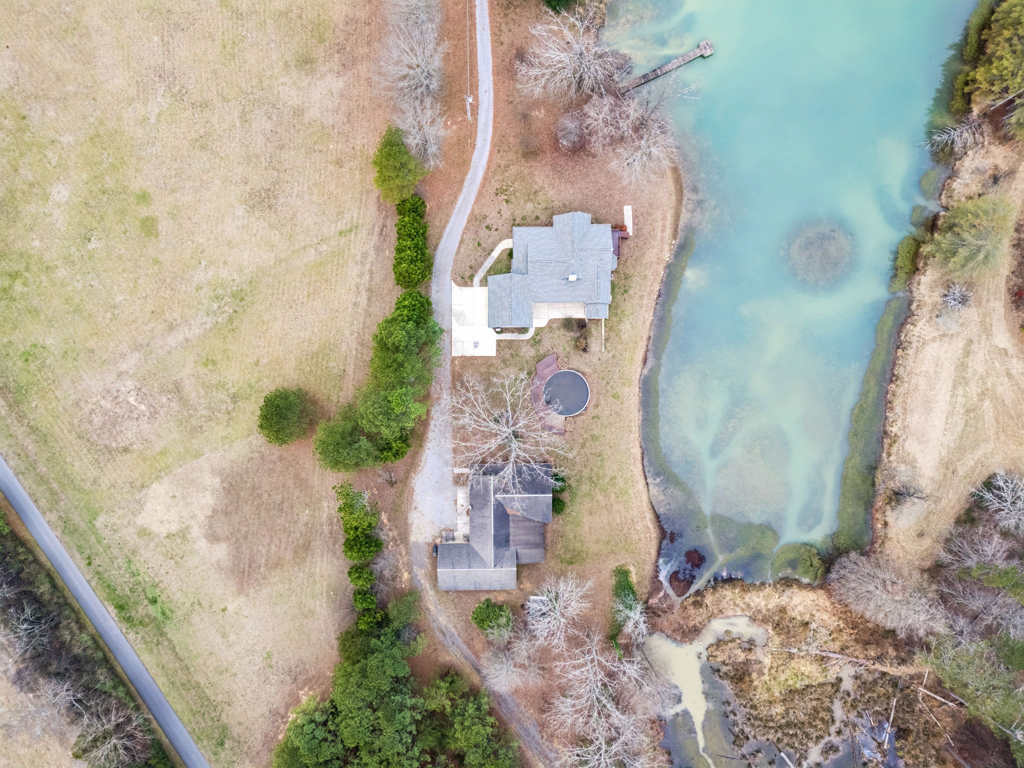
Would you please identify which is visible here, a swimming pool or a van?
swimming pool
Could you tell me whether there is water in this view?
Yes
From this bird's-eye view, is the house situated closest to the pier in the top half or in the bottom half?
top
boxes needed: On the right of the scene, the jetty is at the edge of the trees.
[617,36,716,97]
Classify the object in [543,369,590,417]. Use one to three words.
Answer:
swimming pool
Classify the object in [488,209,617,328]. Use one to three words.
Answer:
house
